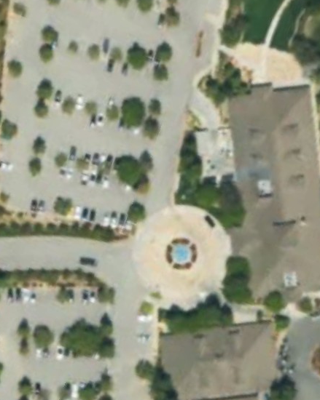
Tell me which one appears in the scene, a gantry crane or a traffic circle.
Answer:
traffic circle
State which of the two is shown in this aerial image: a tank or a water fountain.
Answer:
water fountain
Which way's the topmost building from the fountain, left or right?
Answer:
on its right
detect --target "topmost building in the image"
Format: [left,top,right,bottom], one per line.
[227,84,320,298]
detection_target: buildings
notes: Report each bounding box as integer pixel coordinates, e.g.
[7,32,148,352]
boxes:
[227,84,320,298]
[161,323,279,400]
